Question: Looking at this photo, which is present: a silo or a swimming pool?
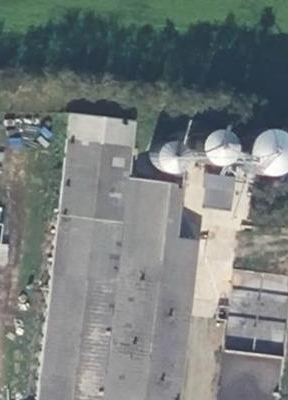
silo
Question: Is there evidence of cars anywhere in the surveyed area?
No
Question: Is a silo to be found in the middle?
Yes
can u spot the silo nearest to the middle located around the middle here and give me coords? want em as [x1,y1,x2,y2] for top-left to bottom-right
[150,140,194,178]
